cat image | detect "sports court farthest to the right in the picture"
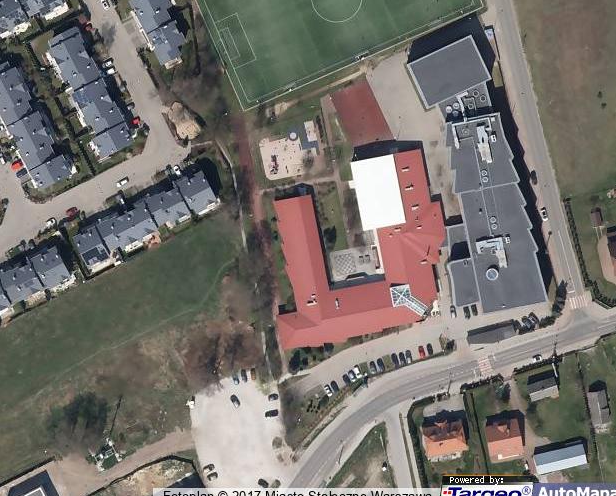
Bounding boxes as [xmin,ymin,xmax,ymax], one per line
[331,80,396,158]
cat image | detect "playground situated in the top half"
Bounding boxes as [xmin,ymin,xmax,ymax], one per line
[260,120,319,180]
